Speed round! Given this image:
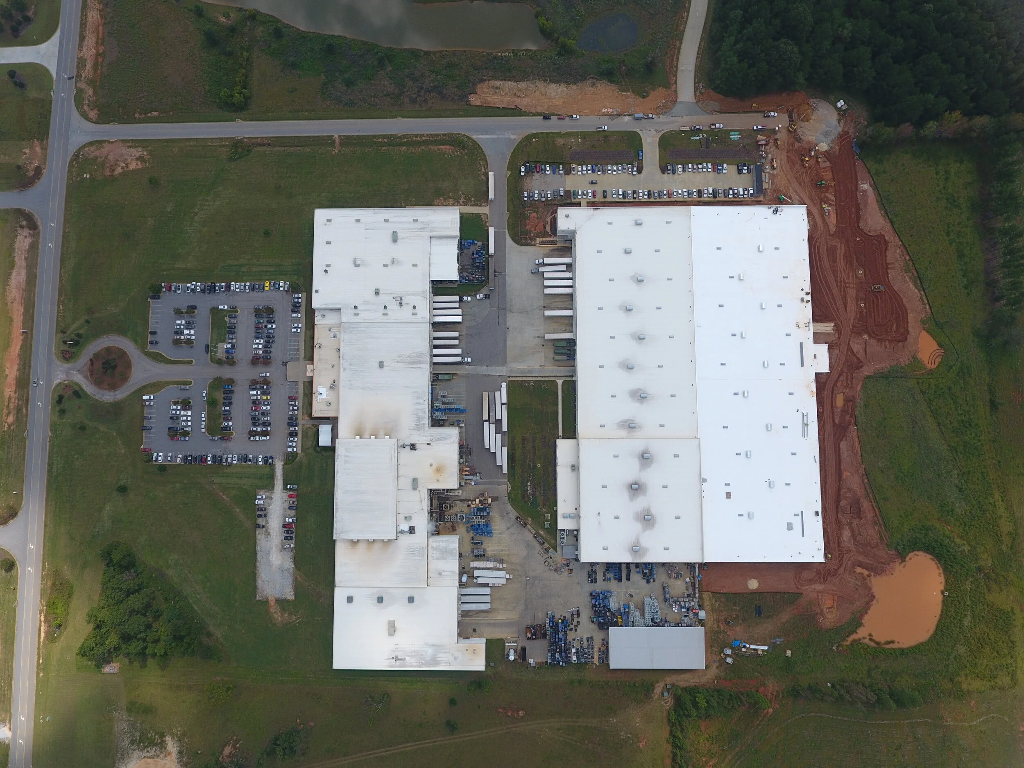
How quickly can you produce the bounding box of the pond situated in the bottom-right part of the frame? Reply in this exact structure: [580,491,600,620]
[846,553,944,648]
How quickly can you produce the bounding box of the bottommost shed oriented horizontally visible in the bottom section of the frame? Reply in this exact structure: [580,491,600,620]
[608,624,705,669]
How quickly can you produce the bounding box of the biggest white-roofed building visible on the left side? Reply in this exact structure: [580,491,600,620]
[306,207,486,671]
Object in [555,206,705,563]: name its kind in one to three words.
warehouse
